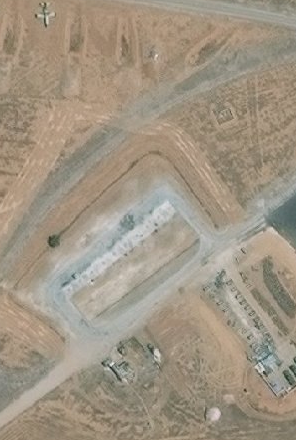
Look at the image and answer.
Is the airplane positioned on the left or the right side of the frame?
left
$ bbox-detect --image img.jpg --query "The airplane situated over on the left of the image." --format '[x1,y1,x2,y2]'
[36,2,56,26]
